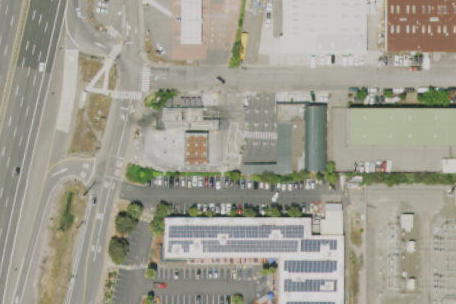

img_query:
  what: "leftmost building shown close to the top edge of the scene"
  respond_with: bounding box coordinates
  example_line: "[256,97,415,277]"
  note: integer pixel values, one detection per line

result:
[280,0,368,53]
